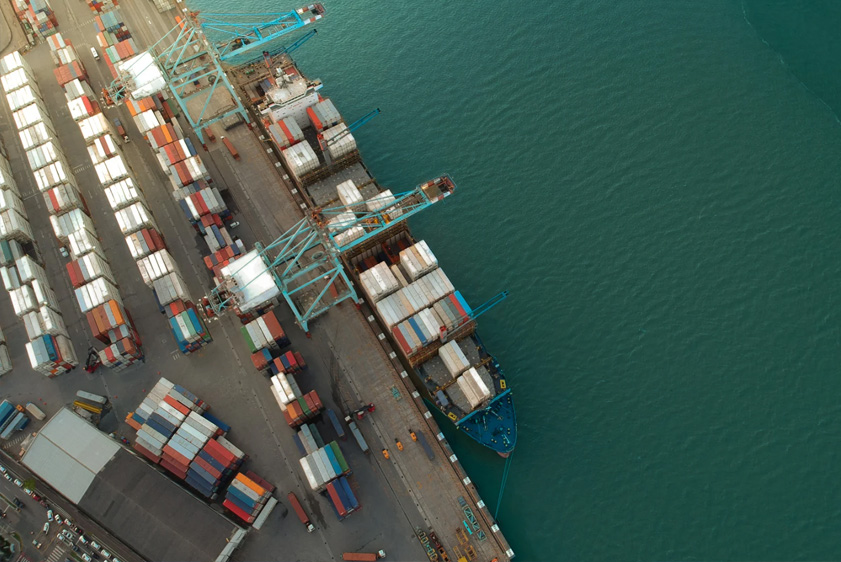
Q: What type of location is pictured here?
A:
port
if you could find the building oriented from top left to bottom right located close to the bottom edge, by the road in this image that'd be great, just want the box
[19,407,252,562]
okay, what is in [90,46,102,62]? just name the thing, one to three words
vehicle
